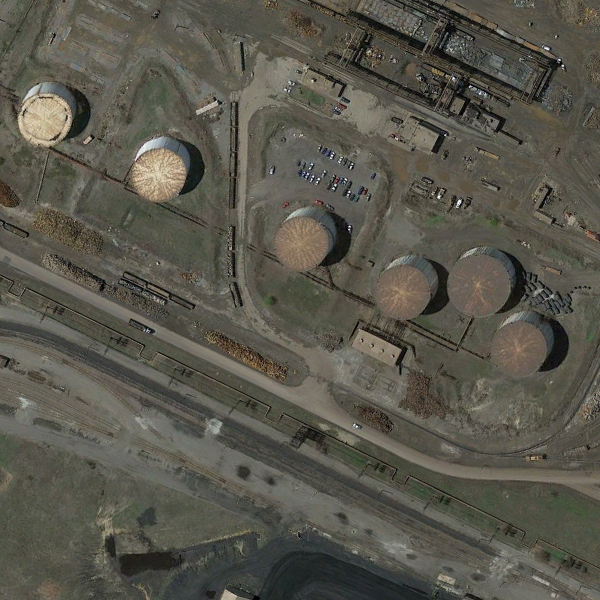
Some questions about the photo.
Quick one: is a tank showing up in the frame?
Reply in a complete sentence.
Yes, there is a tank in the image.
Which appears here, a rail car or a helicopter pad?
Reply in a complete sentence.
It is a rail car that can be seen here.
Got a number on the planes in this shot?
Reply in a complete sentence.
The photo contains no planes.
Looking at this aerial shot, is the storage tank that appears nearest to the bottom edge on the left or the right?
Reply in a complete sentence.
It is on the right.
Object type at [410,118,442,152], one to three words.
building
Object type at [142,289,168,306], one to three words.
rail car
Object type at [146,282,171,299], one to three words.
rail car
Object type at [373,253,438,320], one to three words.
storage tank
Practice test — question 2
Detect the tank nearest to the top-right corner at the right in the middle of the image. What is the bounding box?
[446,245,516,317]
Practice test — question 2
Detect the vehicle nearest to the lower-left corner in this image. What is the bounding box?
[128,317,155,334]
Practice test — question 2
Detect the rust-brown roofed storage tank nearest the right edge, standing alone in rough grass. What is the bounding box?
[490,309,554,377]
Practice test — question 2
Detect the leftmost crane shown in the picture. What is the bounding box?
[336,23,370,69]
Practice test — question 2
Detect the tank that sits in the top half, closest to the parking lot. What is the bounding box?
[273,206,336,271]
